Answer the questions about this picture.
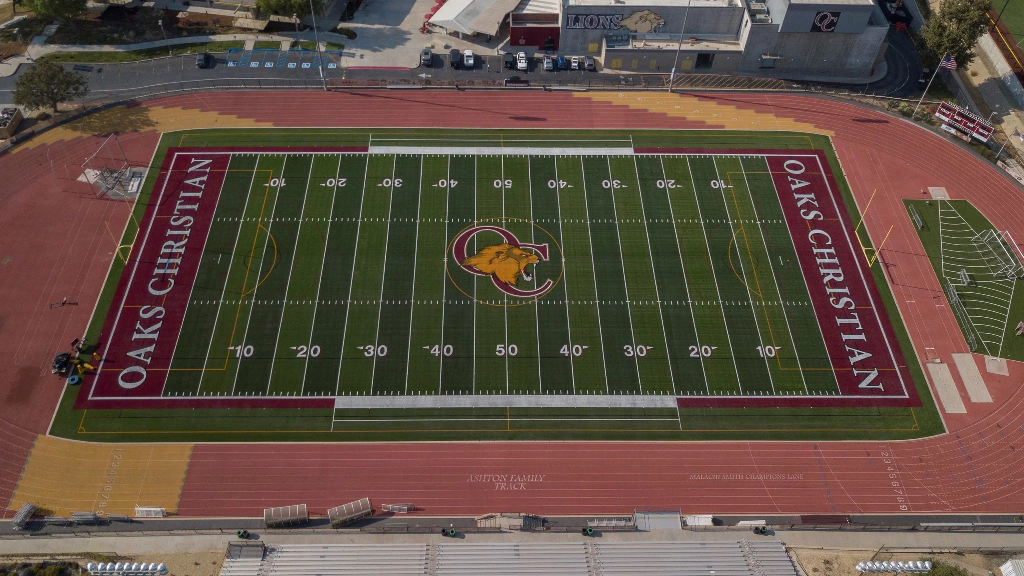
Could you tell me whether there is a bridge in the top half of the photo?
No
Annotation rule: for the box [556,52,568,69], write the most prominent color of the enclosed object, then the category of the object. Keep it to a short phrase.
blue vehicle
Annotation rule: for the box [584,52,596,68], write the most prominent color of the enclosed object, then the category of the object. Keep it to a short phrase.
gray vehicle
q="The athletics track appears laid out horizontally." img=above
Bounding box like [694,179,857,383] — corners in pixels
[0,89,1024,520]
